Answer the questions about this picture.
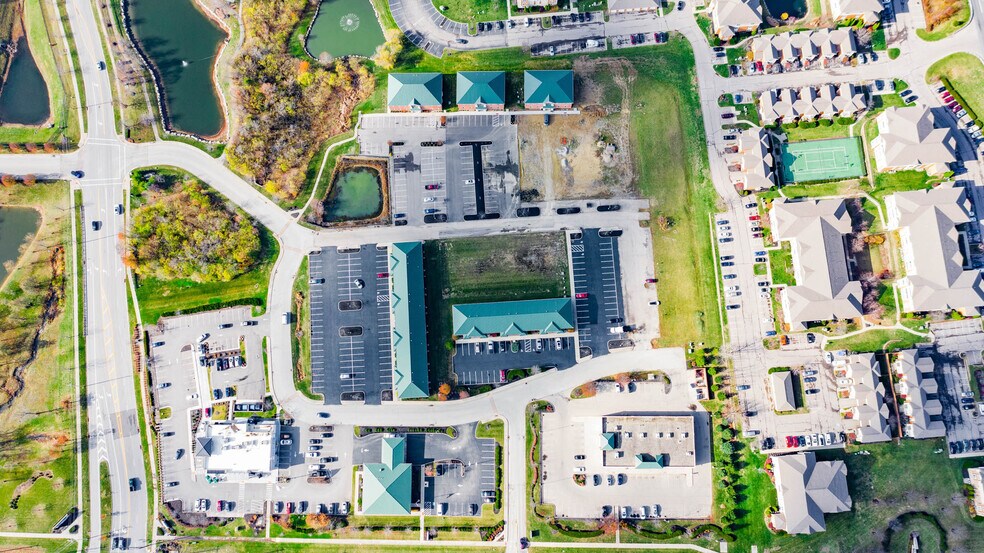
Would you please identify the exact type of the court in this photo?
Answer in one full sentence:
The court appears to be a tennis court.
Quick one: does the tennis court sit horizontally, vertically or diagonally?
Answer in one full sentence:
From this overhead view, the tennis court appears to run horizontally.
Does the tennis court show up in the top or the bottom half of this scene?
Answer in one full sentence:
Seen from above, the tennis court lies in the top half of the view.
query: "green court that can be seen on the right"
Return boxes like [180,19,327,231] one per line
[781,134,871,184]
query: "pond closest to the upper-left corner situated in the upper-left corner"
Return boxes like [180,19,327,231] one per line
[0,37,50,125]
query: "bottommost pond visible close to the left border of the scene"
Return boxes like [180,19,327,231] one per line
[0,208,41,279]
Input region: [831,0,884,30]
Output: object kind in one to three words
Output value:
building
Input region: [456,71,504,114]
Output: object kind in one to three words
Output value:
building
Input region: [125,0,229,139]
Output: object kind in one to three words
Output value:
pond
